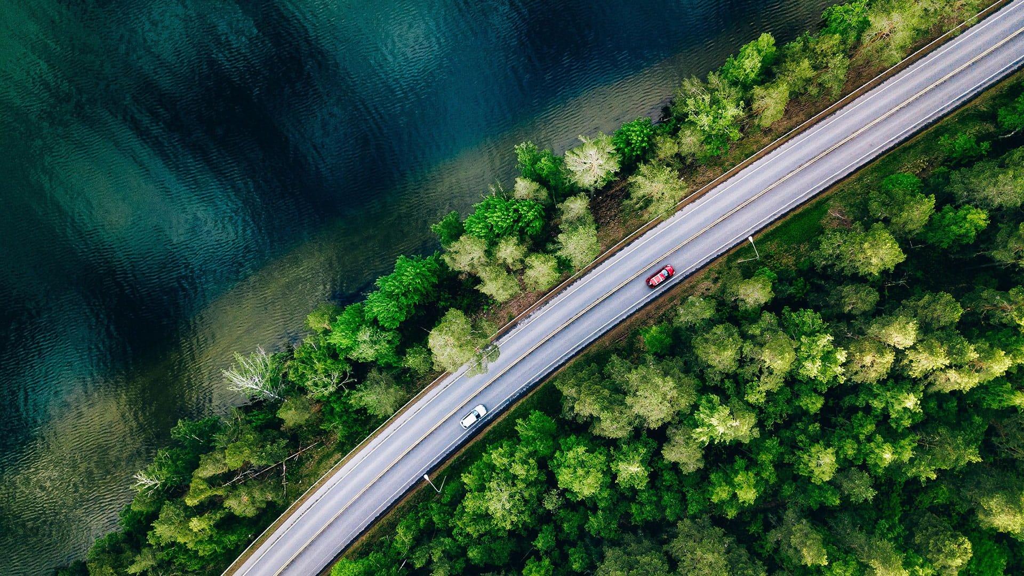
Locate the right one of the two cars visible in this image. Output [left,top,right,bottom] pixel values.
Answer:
[647,266,674,288]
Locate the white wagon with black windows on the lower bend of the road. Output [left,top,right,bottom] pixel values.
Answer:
[460,405,487,429]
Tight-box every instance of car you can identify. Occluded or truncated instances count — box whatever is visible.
[460,405,487,429]
[647,266,674,288]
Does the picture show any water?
Yes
